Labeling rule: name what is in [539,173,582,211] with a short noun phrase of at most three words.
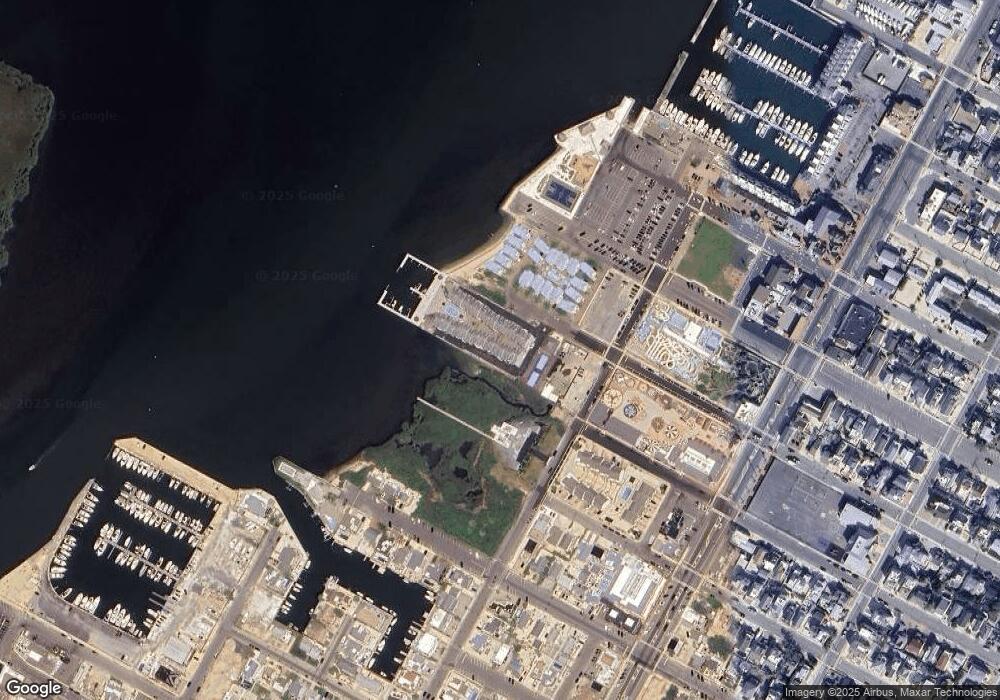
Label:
basketball court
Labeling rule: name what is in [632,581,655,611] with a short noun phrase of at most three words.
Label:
building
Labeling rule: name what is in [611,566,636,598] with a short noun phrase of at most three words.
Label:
building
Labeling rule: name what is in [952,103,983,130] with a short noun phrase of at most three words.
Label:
house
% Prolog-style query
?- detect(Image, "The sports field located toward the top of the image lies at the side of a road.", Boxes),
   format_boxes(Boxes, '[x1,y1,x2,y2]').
[668,213,760,304]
